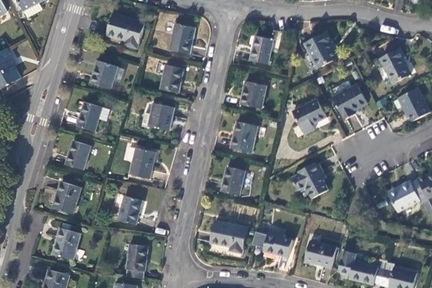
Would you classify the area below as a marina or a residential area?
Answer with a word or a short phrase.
residential area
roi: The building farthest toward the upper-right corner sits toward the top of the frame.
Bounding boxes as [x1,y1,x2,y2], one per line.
[376,48,410,84]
